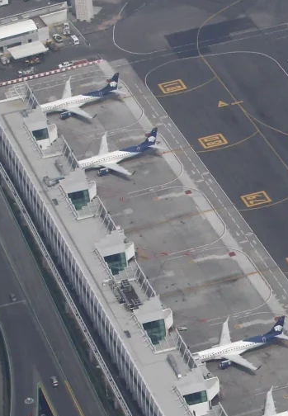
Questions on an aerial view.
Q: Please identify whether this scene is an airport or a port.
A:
airport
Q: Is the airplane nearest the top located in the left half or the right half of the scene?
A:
left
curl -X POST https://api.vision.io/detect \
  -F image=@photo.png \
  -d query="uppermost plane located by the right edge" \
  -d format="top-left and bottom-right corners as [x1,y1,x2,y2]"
[190,313,288,369]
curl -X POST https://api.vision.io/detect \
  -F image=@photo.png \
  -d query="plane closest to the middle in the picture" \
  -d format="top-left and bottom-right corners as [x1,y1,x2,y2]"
[71,128,166,177]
